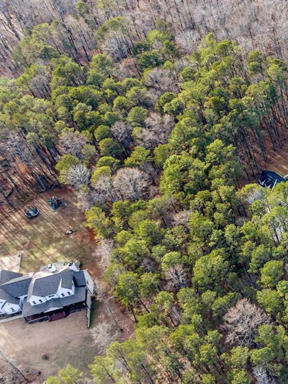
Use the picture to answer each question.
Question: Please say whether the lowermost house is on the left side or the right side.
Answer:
left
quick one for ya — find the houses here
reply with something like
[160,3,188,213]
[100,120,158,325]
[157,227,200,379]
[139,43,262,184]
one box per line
[0,254,100,333]
[253,167,288,195]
